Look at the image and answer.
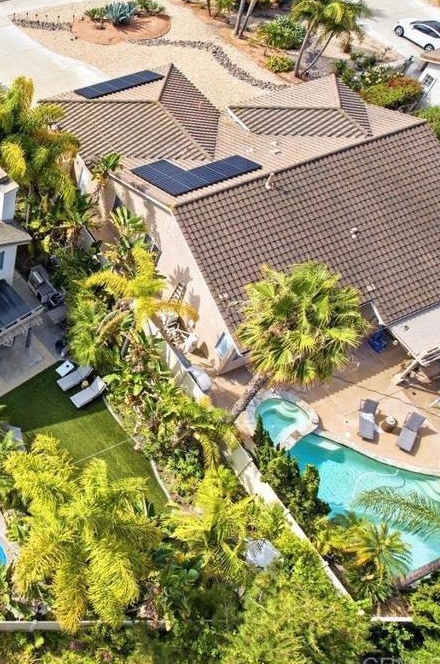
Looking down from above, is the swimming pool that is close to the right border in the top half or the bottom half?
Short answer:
bottom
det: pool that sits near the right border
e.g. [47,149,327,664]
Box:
[281,426,440,589]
